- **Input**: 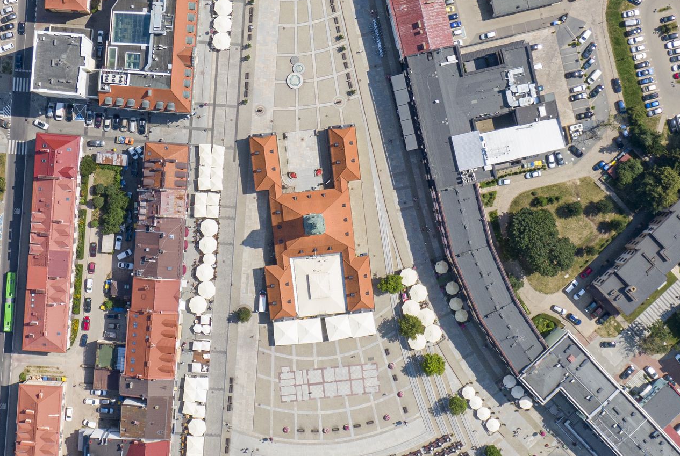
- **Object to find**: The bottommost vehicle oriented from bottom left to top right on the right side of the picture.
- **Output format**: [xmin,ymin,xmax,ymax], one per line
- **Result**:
[620,365,635,379]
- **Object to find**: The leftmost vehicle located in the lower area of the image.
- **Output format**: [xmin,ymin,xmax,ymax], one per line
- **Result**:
[3,272,17,332]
